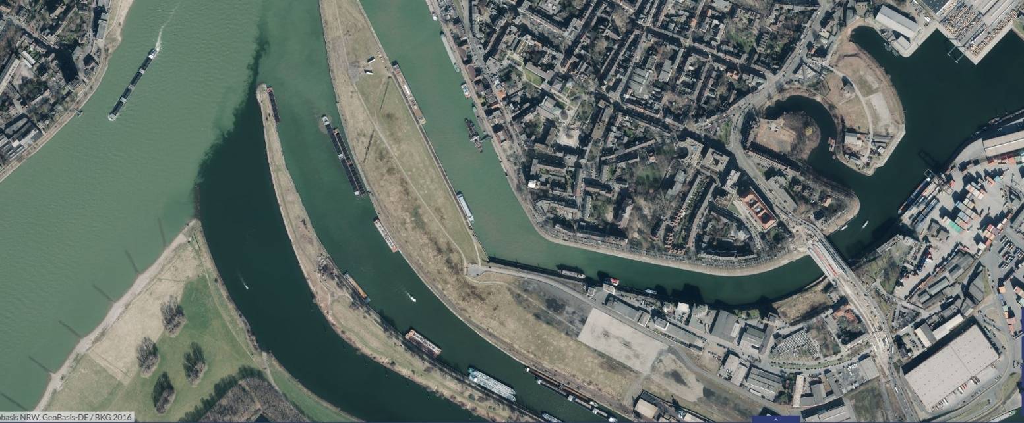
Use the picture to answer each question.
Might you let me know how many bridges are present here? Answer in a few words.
one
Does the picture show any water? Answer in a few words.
Yes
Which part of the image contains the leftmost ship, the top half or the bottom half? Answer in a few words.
top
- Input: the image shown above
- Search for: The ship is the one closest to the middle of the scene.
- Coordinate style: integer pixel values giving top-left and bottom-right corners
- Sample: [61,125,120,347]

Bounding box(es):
[456,191,473,222]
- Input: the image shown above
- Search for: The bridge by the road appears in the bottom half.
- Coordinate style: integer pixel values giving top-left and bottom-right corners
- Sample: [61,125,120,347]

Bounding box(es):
[808,236,857,284]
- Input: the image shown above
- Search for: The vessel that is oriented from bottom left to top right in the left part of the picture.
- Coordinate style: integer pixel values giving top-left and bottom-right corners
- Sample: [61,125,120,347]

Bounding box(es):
[111,50,159,120]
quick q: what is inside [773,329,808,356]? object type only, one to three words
building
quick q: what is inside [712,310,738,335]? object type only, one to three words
building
